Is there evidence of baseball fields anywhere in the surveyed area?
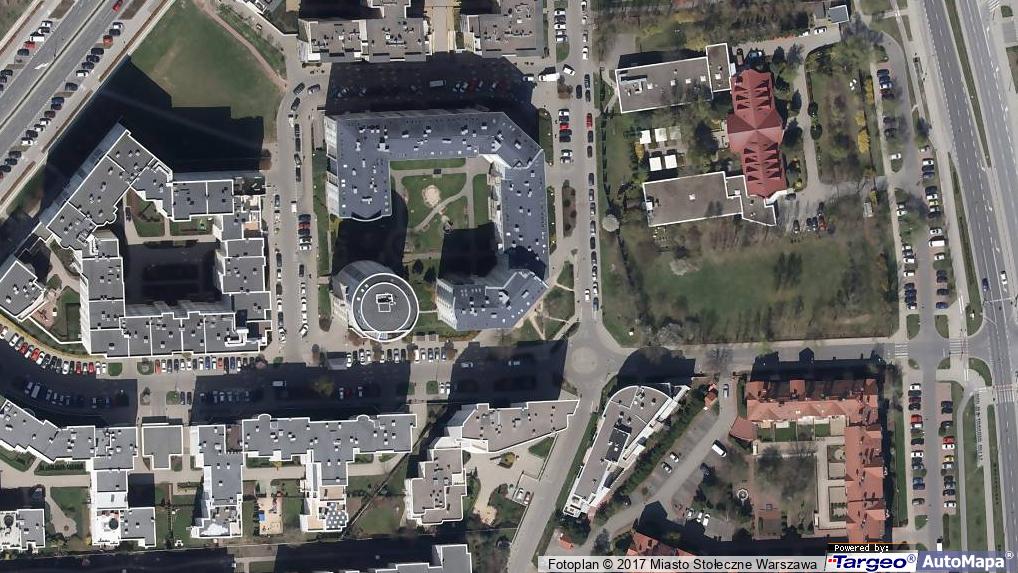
No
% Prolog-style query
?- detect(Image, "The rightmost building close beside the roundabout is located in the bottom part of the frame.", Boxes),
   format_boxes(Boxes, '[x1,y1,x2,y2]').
[560,383,690,517]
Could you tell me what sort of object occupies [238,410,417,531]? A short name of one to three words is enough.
building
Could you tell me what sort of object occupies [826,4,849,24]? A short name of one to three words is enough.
shed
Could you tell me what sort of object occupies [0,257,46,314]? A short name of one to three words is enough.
building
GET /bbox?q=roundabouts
[565,339,606,381]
